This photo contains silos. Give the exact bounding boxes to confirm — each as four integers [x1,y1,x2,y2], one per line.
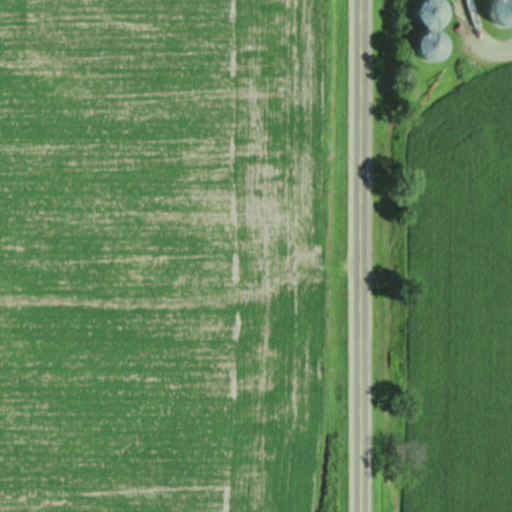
[488,0,512,30]
[414,0,452,33]
[414,31,452,66]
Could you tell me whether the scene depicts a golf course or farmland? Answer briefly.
farmland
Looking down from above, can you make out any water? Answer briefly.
No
